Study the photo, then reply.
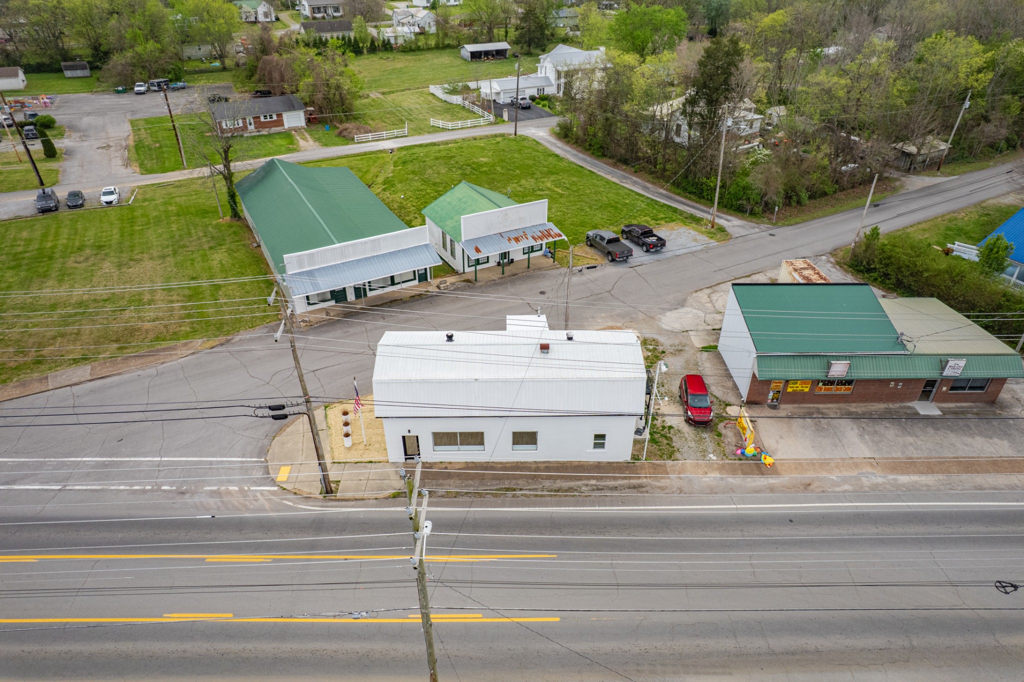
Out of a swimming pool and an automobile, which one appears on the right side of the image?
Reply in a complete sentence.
There is an automobile on the right side of the image.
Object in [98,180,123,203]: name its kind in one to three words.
car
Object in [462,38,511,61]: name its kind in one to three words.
shed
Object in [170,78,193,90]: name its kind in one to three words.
boat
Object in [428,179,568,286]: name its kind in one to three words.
building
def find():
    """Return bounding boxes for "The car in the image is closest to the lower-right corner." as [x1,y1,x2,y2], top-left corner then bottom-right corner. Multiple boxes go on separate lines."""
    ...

[678,370,718,429]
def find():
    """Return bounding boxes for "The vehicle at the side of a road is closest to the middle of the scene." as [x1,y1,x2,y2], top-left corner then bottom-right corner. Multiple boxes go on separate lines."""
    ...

[582,225,639,262]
